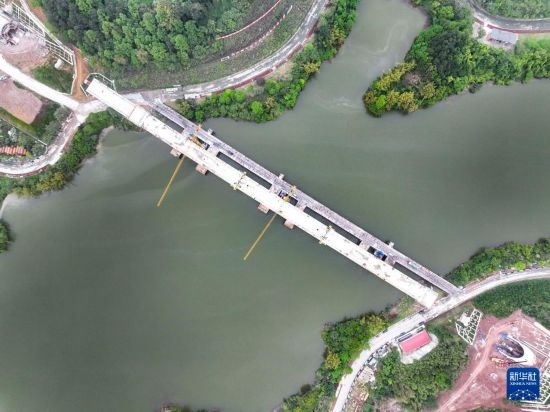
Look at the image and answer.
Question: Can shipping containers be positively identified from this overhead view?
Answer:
No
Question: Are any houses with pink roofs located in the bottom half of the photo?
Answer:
Yes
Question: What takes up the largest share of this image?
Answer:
water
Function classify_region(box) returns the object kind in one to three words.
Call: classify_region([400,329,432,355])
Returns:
house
